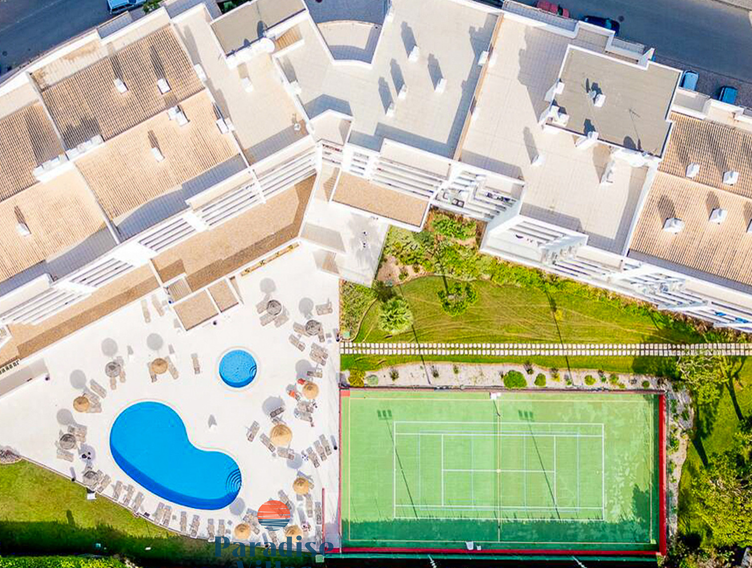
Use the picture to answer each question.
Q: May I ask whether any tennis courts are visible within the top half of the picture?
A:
No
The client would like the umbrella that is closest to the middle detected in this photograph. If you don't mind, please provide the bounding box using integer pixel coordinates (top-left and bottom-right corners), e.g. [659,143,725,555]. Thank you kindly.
[305,320,321,337]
